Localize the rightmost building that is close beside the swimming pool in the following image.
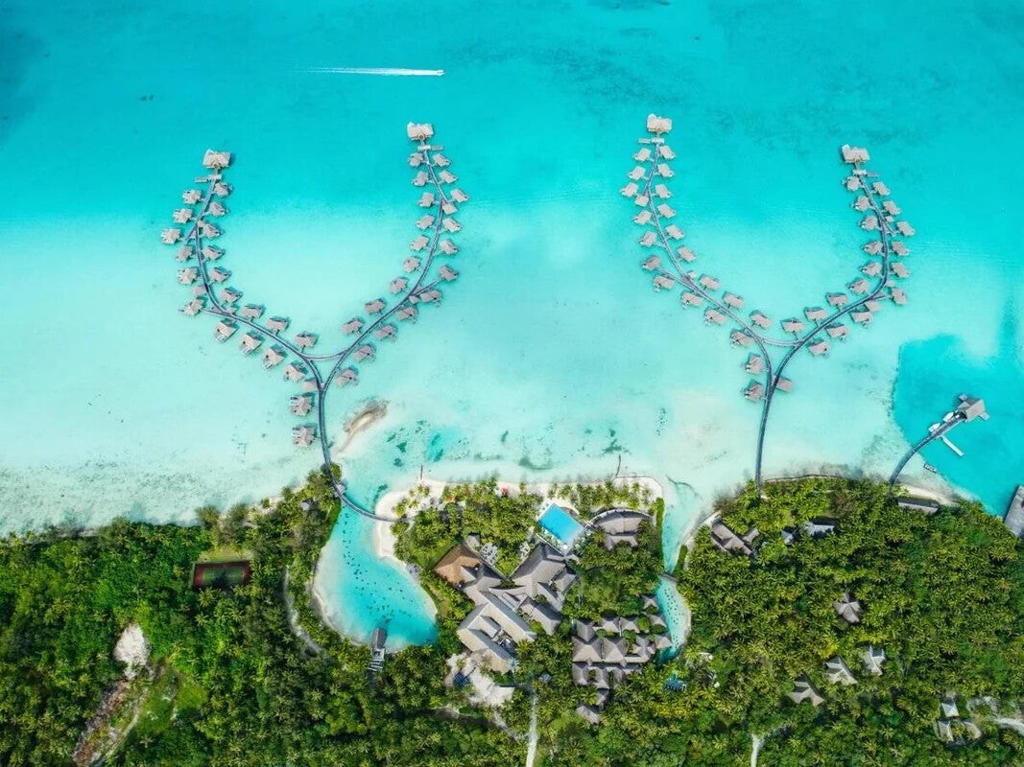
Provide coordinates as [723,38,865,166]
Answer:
[586,509,655,550]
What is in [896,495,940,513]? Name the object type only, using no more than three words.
shed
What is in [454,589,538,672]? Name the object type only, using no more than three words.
building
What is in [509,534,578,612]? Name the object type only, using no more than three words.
building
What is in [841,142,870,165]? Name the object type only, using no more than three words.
house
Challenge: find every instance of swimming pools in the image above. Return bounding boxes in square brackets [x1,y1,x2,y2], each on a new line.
[534,499,591,553]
